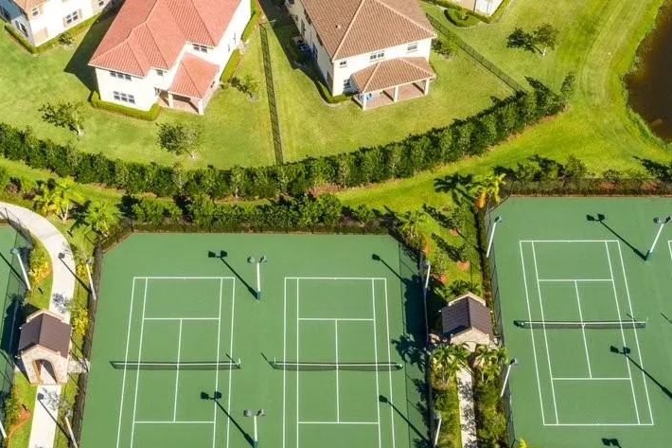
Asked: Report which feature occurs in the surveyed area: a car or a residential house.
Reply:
residential house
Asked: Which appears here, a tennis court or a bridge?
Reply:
tennis court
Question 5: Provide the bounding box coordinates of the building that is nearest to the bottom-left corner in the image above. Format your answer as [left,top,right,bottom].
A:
[15,307,79,382]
